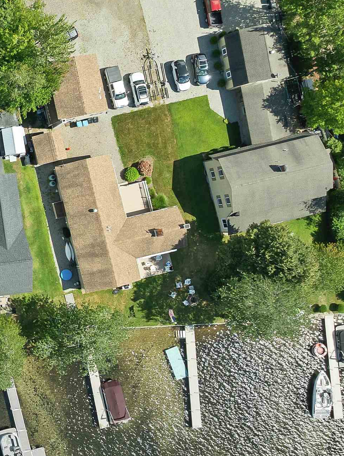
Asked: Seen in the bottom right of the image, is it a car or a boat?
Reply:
boat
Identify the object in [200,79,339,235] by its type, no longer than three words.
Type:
house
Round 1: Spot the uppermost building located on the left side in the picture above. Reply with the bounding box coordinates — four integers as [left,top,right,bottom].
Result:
[46,53,109,125]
